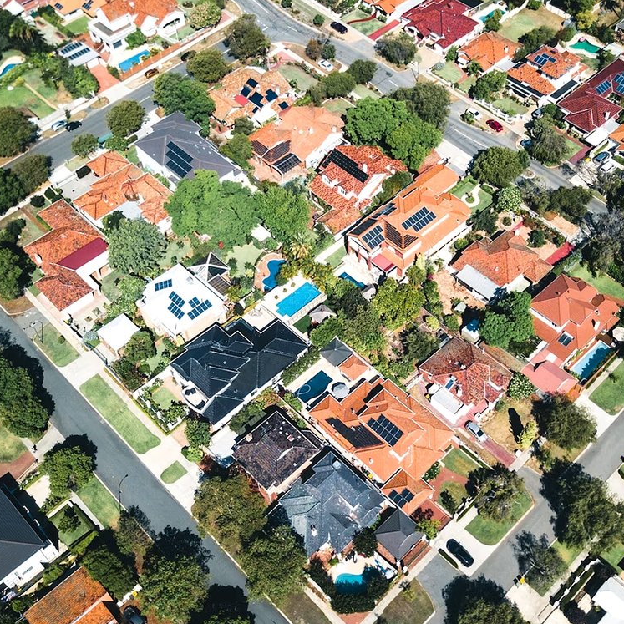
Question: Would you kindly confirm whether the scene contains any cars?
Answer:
Yes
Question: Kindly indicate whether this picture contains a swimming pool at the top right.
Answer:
Yes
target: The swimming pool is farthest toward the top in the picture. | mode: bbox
[474,2,509,27]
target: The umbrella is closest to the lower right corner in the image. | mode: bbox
[610,329,624,345]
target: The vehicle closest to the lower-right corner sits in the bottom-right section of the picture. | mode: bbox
[443,536,475,569]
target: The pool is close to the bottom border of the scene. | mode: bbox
[328,552,398,601]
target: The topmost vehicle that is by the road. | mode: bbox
[329,18,350,35]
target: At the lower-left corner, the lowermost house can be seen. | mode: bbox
[23,566,123,624]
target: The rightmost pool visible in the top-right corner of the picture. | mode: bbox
[562,35,604,56]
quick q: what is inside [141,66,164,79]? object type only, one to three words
vehicle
